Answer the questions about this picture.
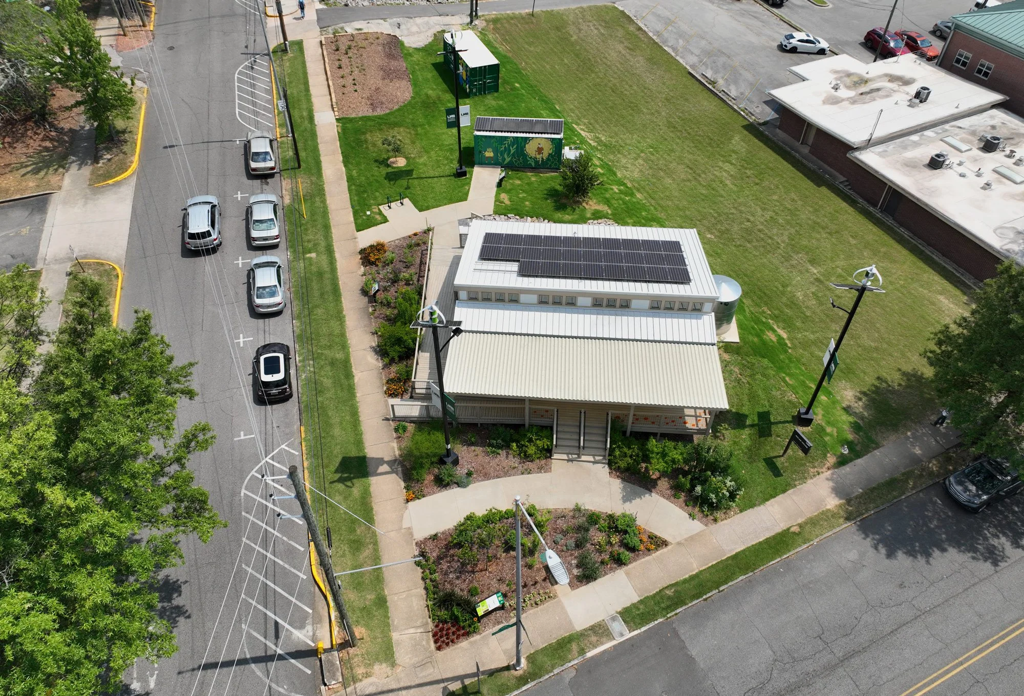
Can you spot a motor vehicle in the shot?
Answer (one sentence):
Yes, a motor vehicle appears in the view.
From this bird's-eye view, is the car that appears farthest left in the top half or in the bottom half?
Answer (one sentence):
It is in the top half that the car that appears farthest left appears.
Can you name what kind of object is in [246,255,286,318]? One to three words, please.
car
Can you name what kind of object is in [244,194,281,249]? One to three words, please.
car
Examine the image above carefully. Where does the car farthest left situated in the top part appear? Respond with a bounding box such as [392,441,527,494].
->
[185,200,223,256]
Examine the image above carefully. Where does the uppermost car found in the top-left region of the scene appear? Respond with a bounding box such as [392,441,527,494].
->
[246,132,279,178]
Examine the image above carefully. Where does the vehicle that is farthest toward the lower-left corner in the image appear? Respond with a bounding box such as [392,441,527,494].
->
[250,344,293,407]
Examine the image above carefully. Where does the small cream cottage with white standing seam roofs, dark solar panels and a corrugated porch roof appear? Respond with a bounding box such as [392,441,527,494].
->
[387,219,727,466]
